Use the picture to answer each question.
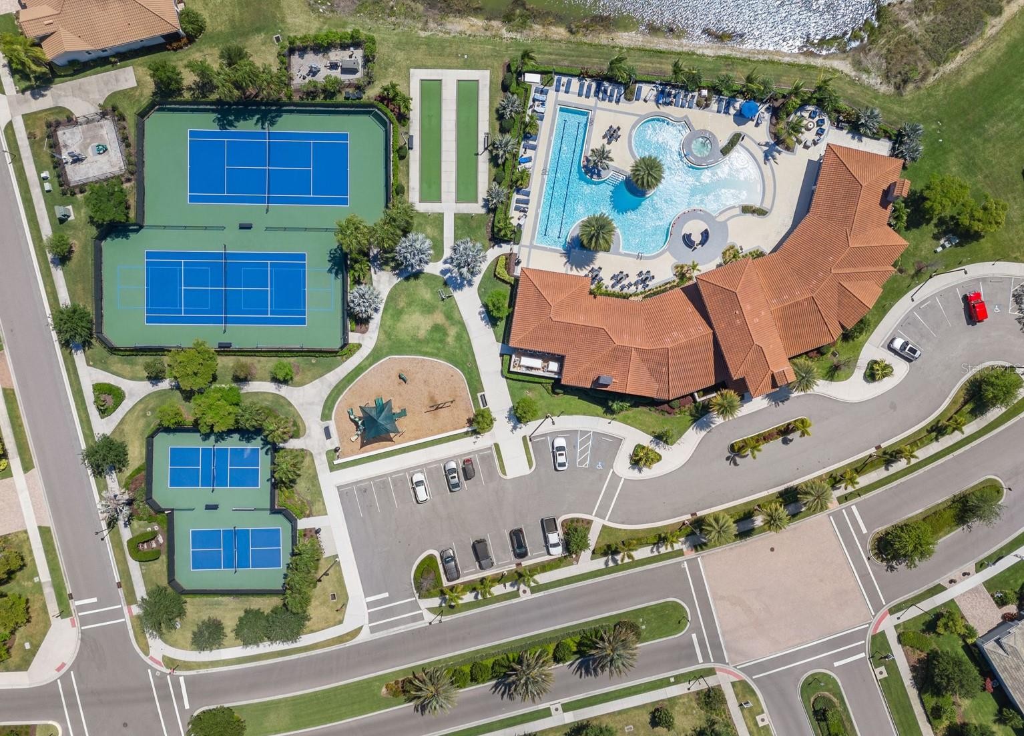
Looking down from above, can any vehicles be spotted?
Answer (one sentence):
Yes, a vehicle is visible in the scene.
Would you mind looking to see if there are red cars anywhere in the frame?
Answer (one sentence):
Yes, there is a red car in the image.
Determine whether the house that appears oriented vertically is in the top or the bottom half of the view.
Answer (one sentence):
The house that appears oriented vertically is in the bottom half of the image.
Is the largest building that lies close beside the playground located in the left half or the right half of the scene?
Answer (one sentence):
The largest building that lies close beside the playground sits on the right side.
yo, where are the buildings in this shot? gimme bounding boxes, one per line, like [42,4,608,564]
[974,608,1024,723]
[507,143,910,402]
[19,0,185,60]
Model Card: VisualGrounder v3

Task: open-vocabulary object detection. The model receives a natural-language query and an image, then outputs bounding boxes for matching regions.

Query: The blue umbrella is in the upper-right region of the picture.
[740,100,759,119]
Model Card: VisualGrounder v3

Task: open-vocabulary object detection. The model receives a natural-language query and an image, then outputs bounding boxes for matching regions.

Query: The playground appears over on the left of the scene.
[331,355,478,465]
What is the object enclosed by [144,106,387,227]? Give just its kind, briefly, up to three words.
tennis court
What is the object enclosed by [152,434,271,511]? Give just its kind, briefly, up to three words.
sports court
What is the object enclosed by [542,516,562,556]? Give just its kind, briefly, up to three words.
vehicle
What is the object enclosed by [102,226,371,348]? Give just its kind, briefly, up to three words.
tennis court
